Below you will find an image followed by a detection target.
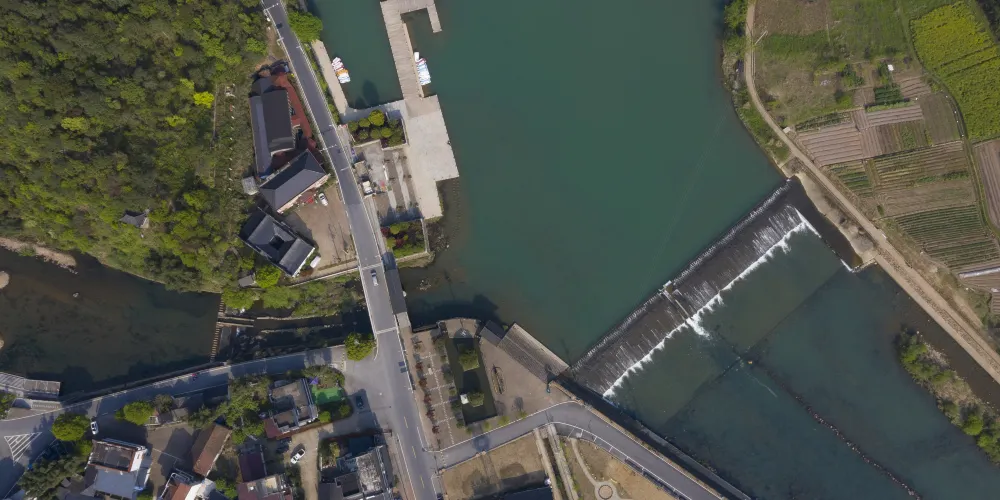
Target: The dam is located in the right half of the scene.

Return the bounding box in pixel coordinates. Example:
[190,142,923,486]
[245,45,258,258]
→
[571,178,857,396]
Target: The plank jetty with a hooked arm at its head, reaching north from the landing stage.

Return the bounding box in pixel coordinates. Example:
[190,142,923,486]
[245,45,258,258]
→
[380,0,441,101]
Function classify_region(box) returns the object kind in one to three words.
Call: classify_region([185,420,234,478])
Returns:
house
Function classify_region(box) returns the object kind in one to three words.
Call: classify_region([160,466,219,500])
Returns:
house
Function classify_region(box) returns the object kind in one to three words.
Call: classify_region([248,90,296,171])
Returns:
building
